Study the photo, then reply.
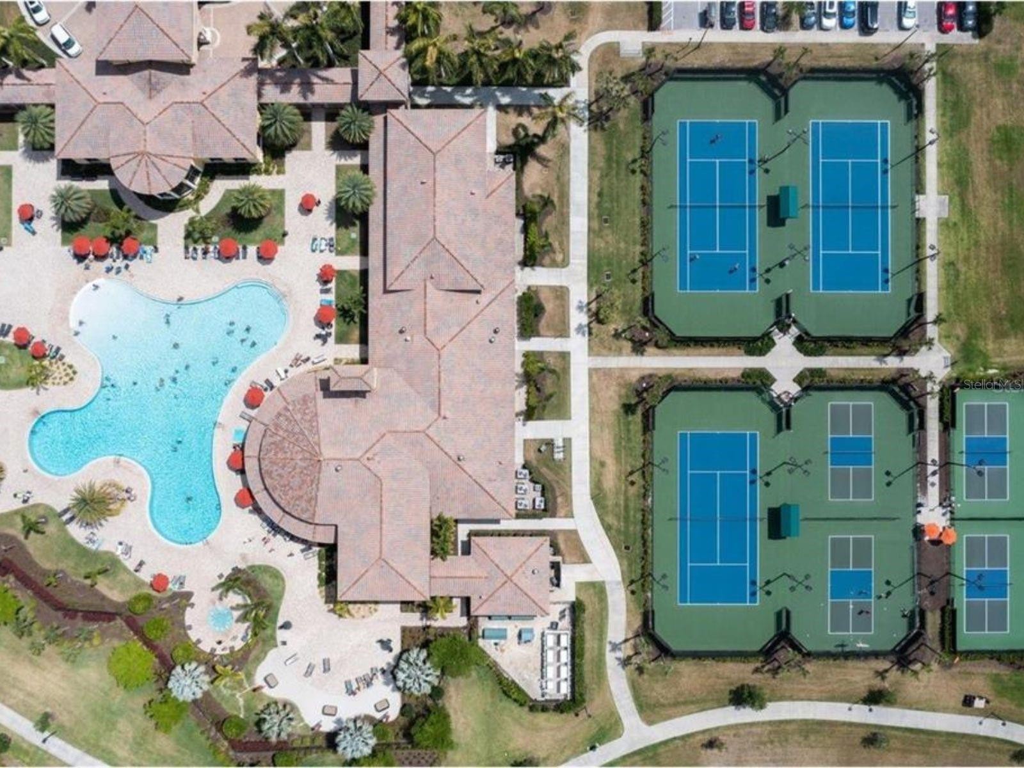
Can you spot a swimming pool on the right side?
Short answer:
No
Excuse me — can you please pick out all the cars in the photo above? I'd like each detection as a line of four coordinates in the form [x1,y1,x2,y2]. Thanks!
[720,0,736,31]
[802,0,818,29]
[958,0,974,31]
[740,0,756,30]
[899,0,916,30]
[703,0,719,26]
[860,0,879,34]
[938,0,956,33]
[761,0,777,33]
[840,0,857,29]
[24,0,51,29]
[52,23,83,58]
[821,0,838,30]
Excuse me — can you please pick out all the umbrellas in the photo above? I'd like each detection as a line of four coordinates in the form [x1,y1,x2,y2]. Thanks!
[938,525,960,546]
[298,192,318,213]
[220,236,241,257]
[921,521,940,541]
[121,236,140,255]
[244,386,266,408]
[319,264,337,282]
[92,237,111,256]
[235,488,255,508]
[31,339,51,359]
[11,327,31,347]
[71,235,92,255]
[151,573,171,592]
[316,304,335,324]
[258,238,279,259]
[226,448,244,469]
[17,202,36,222]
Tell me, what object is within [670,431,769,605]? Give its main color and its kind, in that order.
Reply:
blue tennis court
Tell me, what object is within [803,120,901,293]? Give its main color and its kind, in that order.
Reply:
blue tennis court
